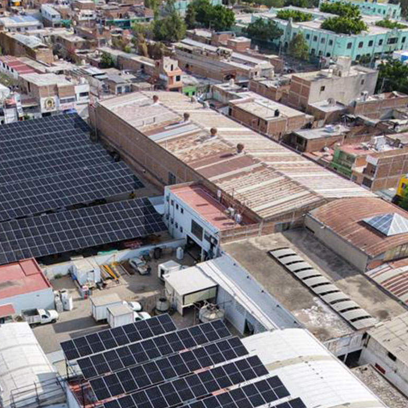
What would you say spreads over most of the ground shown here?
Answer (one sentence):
Most of the picture is covered by buildings.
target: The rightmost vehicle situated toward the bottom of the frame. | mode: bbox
[161,254,197,275]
